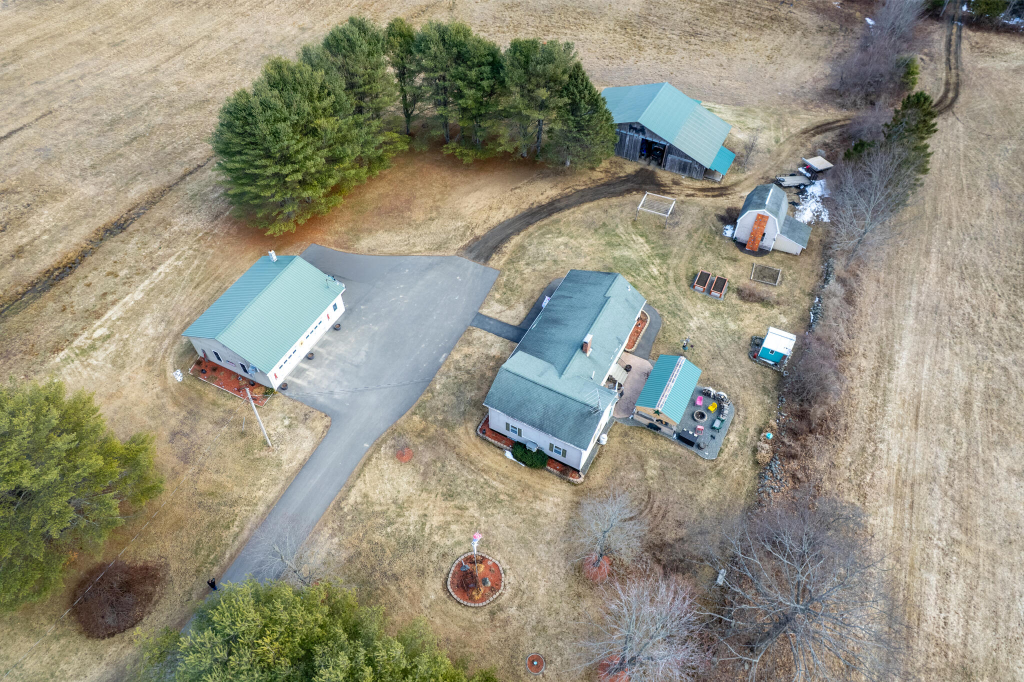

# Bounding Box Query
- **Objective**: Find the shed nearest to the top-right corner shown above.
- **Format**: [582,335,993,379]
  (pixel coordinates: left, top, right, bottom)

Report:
[732,185,813,261]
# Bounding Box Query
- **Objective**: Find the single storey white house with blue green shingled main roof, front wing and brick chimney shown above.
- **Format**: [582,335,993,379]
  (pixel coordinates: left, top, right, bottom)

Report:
[482,270,648,469]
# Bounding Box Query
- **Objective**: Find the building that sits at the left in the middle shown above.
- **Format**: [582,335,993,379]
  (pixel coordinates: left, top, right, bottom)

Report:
[181,243,346,391]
